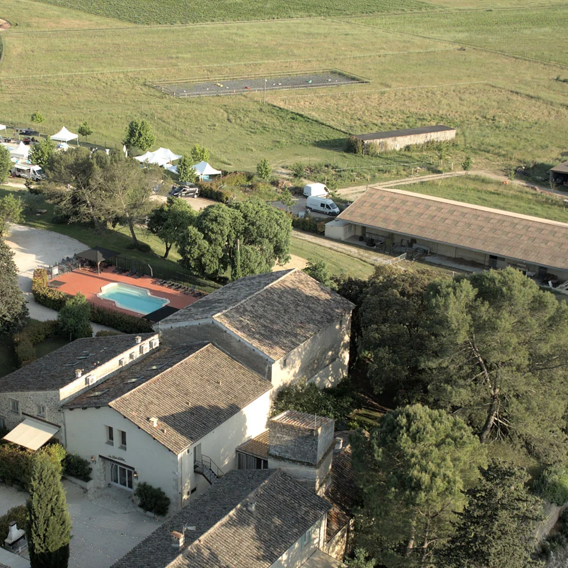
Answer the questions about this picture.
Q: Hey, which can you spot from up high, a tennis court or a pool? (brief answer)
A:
pool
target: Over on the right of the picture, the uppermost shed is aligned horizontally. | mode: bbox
[341,120,451,155]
